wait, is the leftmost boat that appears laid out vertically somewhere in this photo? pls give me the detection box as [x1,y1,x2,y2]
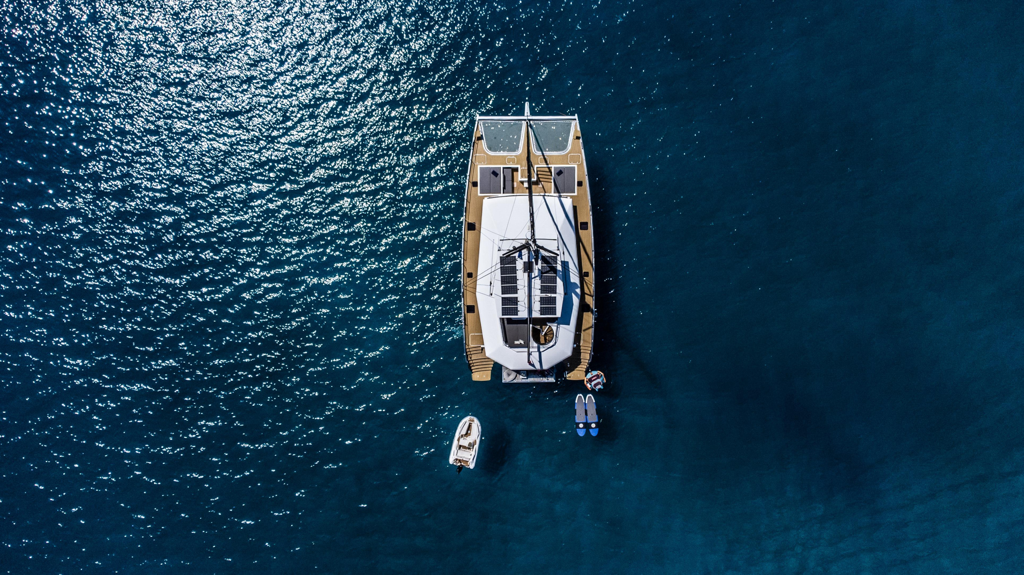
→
[449,415,480,476]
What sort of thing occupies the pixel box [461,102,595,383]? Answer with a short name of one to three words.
boat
